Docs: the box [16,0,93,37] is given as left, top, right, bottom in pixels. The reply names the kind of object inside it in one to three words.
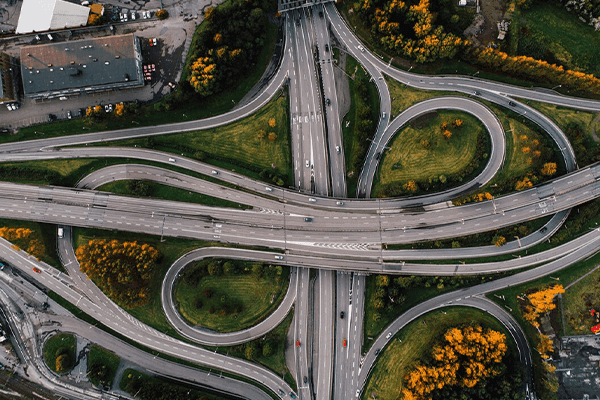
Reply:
building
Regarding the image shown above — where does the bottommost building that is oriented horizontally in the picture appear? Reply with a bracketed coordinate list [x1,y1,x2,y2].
[19,34,146,101]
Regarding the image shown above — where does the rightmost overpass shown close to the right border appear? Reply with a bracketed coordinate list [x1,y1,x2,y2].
[543,169,595,212]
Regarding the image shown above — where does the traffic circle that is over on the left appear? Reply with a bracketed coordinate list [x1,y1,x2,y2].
[36,324,76,384]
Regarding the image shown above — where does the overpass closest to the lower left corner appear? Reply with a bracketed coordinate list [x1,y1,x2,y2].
[39,186,101,227]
